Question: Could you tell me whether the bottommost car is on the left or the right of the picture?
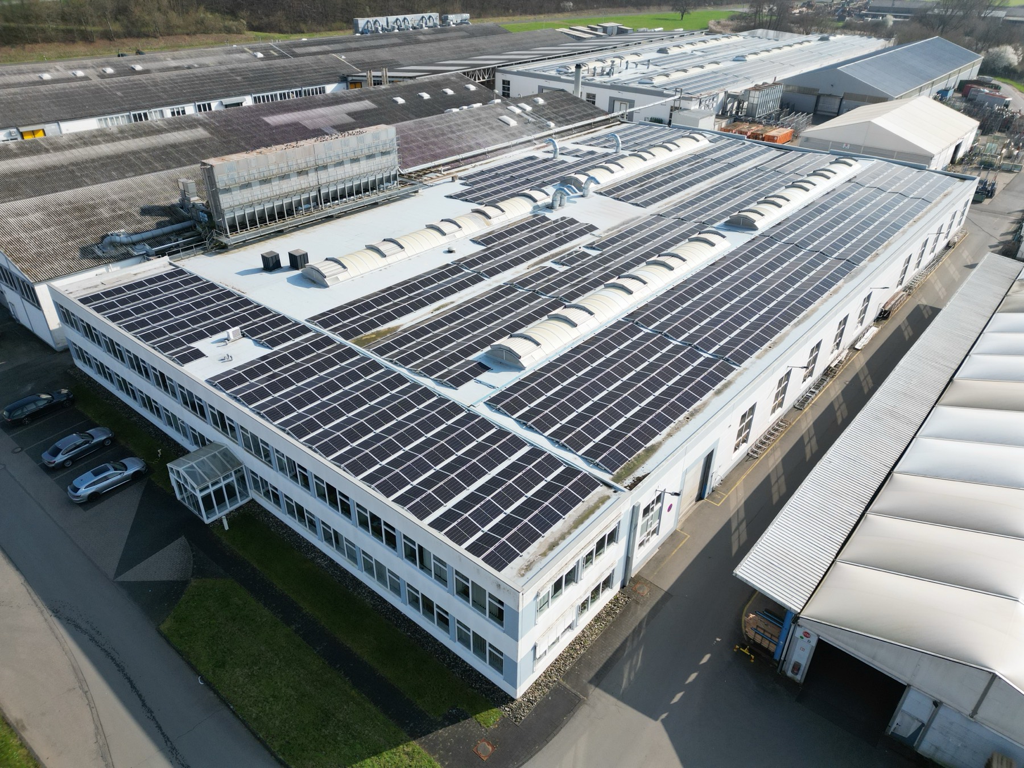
left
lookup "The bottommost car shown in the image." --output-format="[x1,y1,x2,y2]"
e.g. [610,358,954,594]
[65,462,149,505]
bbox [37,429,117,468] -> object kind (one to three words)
car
